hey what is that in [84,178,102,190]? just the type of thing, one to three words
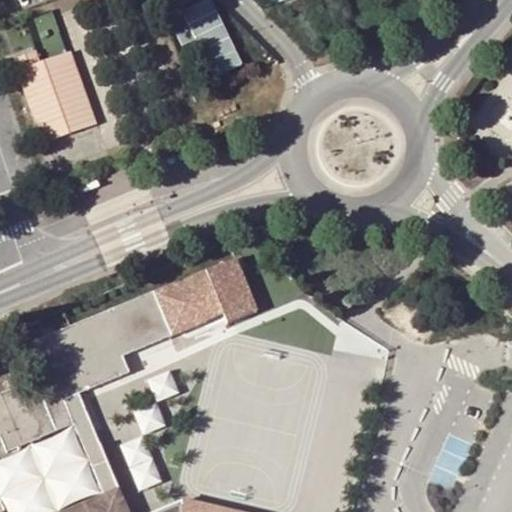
vehicle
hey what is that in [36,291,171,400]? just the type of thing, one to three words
building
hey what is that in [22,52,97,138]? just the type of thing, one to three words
building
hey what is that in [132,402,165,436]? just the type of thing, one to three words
tent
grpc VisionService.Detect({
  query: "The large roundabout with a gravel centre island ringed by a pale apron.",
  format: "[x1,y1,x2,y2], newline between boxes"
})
[276,66,442,230]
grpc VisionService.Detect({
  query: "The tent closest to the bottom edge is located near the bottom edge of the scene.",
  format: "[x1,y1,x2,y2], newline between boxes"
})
[118,436,161,494]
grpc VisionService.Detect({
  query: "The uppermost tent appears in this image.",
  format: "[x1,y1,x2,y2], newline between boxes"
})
[146,371,179,404]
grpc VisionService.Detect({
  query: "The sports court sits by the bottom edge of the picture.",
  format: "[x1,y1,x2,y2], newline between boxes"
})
[183,333,328,512]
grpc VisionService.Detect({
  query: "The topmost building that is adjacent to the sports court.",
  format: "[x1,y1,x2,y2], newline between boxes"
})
[154,258,257,336]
